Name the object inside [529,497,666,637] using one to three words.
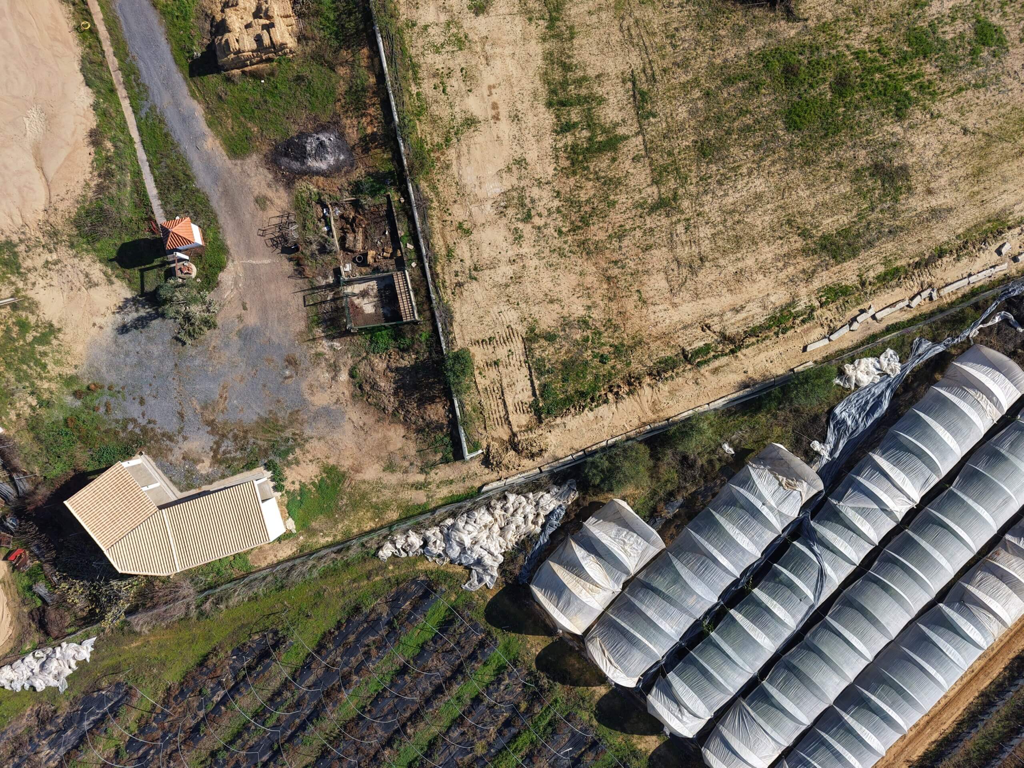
greenhouse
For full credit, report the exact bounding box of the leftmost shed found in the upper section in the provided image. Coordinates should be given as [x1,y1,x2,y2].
[160,216,211,256]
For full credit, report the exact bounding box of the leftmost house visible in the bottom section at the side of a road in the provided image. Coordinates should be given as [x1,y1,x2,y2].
[62,449,285,576]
